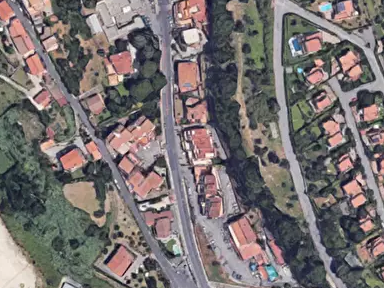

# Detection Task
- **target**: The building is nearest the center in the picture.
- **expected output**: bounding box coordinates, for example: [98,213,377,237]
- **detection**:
[185,127,216,166]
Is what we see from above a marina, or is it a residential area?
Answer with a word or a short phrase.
residential area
